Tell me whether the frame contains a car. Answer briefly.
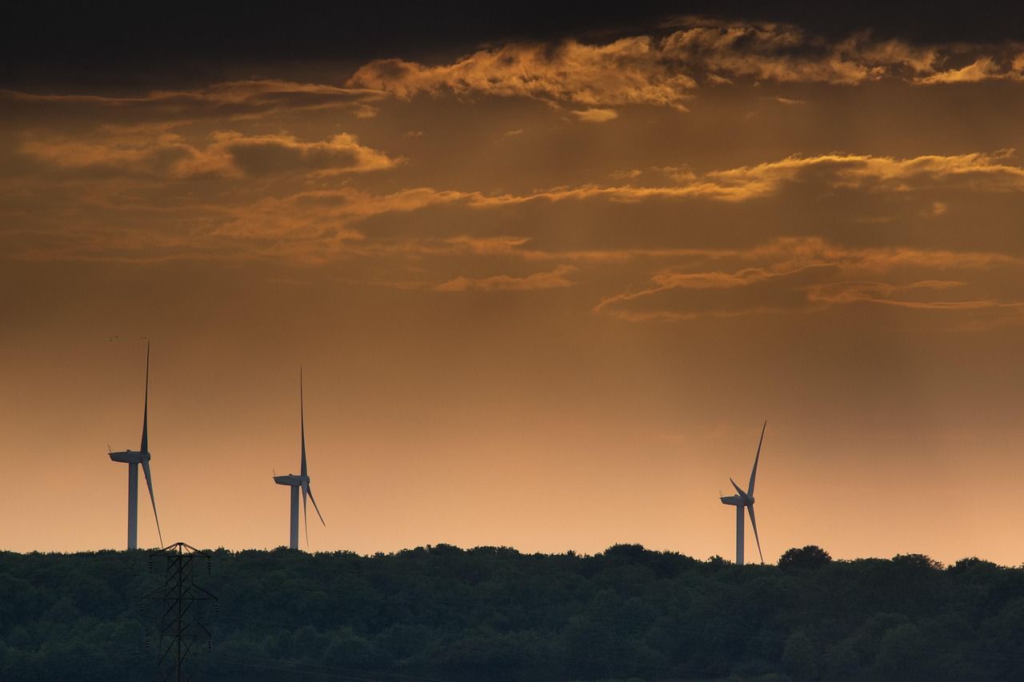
No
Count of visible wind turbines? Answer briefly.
3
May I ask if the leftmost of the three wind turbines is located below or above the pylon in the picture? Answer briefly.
above it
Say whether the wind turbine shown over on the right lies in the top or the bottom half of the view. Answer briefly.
bottom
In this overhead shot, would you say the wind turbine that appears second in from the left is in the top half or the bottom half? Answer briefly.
bottom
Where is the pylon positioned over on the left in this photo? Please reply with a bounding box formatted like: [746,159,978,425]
[137,543,221,682]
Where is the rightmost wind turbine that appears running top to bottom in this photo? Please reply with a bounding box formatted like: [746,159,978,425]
[718,423,767,567]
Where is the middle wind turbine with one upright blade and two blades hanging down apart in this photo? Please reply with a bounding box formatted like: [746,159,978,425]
[271,367,325,549]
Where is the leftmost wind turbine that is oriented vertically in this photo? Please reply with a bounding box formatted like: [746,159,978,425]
[108,345,166,551]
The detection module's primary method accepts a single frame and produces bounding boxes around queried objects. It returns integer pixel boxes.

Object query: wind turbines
[718,423,767,567]
[108,345,166,551]
[271,367,325,549]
